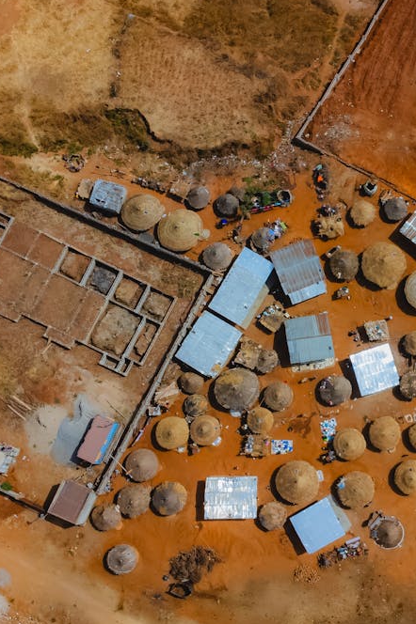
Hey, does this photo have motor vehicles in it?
No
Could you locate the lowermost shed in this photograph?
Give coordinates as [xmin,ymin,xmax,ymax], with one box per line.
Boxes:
[103,541,137,573]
